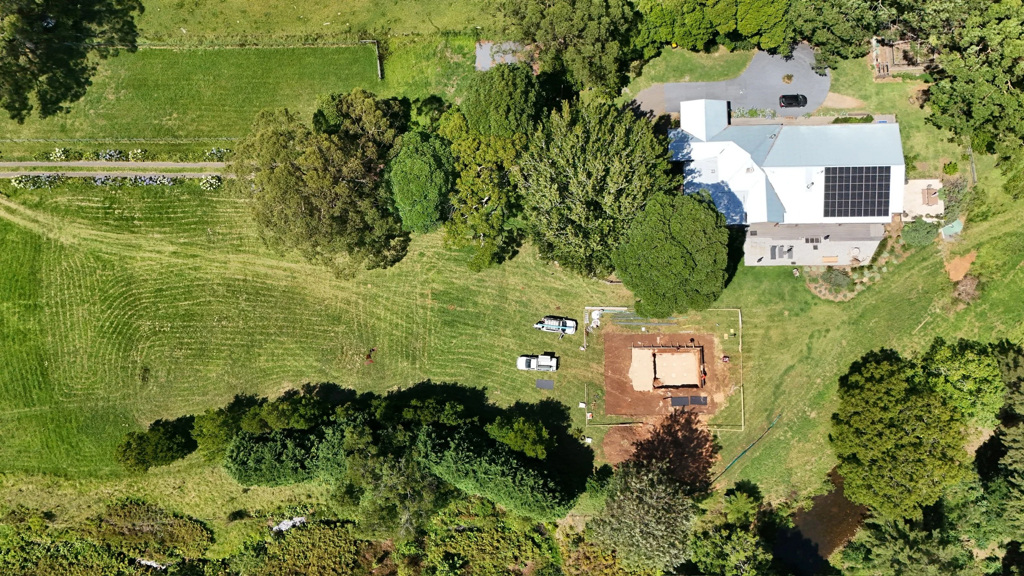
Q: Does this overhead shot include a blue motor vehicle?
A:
No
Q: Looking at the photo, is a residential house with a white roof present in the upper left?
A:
No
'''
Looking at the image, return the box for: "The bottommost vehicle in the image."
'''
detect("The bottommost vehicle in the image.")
[517,355,559,372]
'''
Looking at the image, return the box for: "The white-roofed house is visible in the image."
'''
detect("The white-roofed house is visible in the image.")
[669,99,904,225]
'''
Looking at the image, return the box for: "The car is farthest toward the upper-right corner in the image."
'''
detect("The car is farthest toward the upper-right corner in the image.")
[778,92,808,108]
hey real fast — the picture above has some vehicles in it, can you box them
[778,92,808,108]
[533,316,578,339]
[517,355,559,372]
